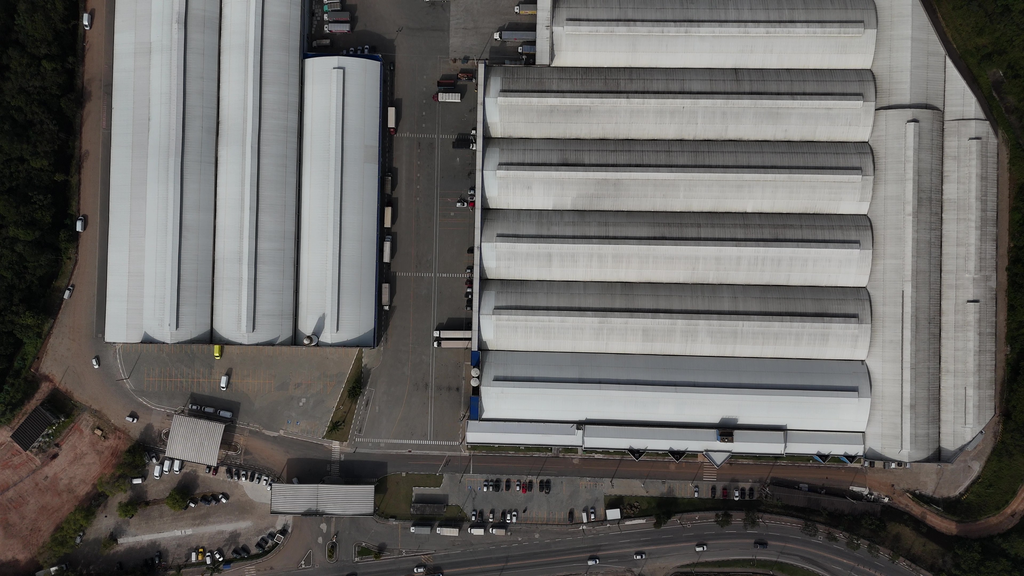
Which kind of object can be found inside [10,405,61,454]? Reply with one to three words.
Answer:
shed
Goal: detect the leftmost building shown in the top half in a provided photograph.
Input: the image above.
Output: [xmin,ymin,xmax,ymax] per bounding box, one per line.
[105,0,222,345]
